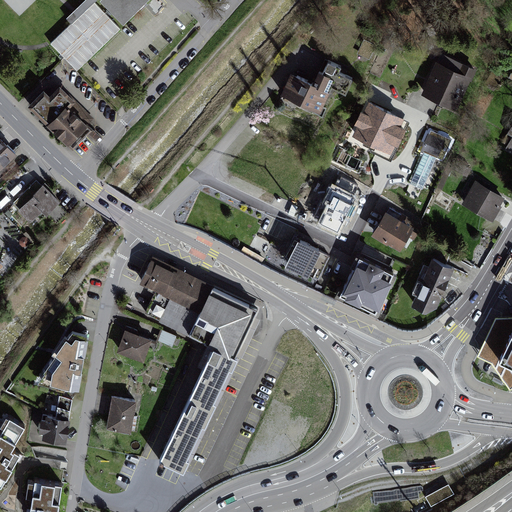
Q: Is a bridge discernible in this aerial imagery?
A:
Yes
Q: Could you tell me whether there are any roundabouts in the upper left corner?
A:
No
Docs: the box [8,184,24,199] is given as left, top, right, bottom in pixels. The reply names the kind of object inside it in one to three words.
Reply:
vehicle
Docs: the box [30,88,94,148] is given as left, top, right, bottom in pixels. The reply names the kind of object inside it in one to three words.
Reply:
house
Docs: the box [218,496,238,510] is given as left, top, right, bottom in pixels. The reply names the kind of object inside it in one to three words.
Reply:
vehicle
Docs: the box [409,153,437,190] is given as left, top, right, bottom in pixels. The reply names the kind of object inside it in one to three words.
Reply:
greenhouse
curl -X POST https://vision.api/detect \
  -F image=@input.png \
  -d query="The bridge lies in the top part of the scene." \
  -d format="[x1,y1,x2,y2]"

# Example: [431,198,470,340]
[84,176,138,228]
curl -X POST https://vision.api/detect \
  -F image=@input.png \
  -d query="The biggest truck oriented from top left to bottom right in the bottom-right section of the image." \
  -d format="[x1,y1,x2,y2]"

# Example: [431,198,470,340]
[418,366,440,388]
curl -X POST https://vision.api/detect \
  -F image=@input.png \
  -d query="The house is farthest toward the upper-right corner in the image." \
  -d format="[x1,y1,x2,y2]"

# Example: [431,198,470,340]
[422,56,475,112]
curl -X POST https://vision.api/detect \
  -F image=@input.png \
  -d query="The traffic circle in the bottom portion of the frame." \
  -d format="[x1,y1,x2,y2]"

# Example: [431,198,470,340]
[358,346,454,441]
